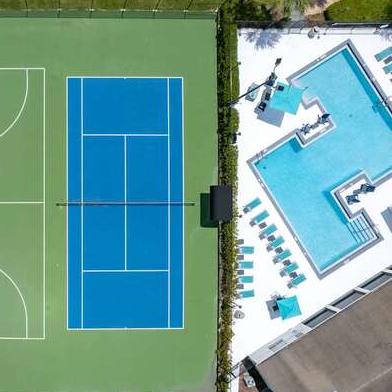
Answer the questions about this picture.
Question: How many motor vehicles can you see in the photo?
0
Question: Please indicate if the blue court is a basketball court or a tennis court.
tennis court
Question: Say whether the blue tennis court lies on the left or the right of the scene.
left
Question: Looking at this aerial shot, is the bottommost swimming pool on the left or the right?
right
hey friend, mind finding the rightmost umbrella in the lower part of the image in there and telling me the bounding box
[273,295,302,320]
